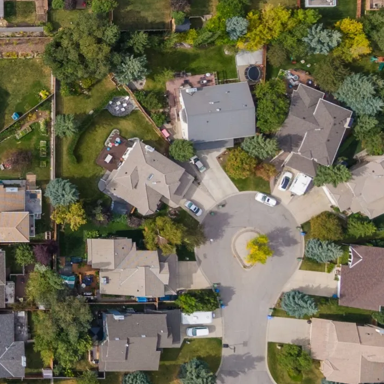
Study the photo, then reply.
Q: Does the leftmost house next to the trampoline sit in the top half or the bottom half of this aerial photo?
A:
top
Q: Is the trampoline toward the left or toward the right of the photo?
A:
right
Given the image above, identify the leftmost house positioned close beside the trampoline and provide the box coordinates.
[172,81,258,152]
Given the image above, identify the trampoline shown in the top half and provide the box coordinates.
[242,62,264,82]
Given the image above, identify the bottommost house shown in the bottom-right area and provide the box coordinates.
[302,320,384,383]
